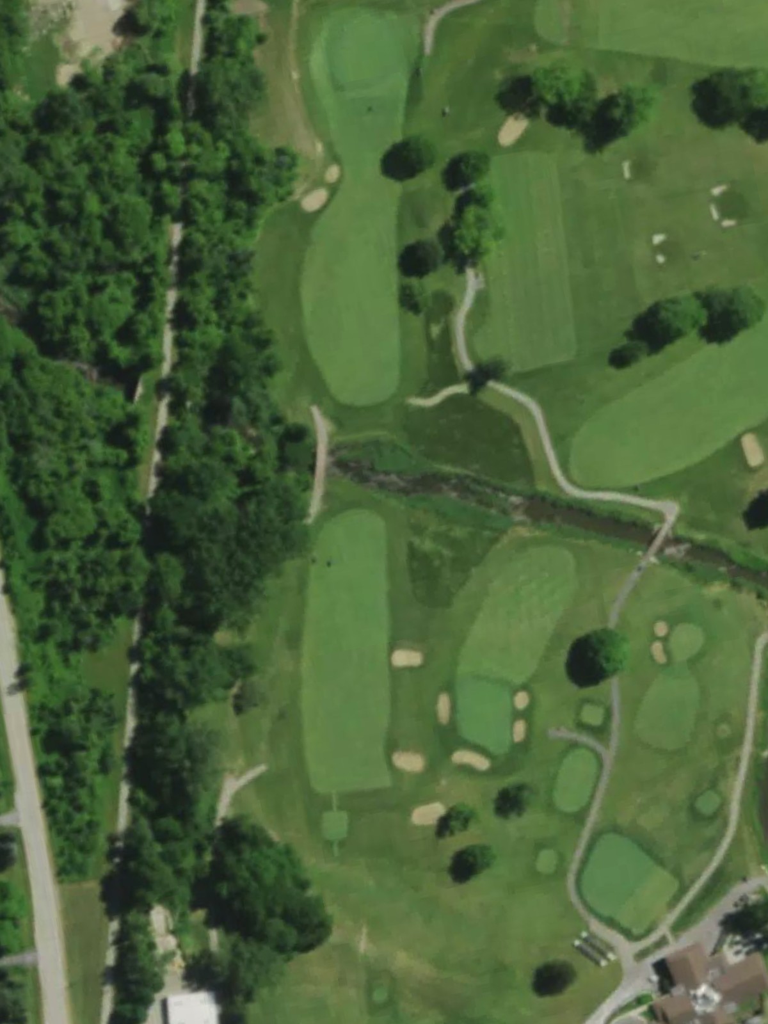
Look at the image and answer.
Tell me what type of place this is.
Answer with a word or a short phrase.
golf course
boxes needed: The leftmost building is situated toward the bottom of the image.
[167,991,217,1024]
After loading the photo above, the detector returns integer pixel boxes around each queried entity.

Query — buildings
[167,991,217,1024]
[648,941,768,1024]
